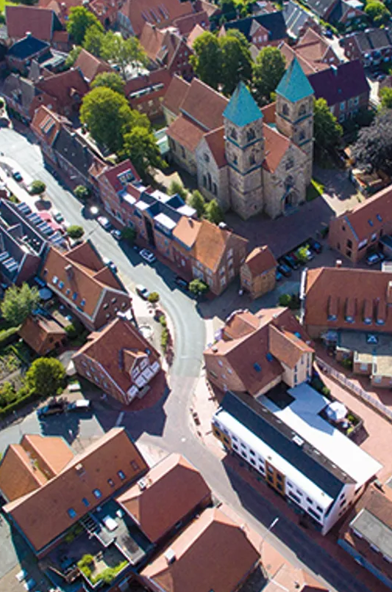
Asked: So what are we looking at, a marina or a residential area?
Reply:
residential area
